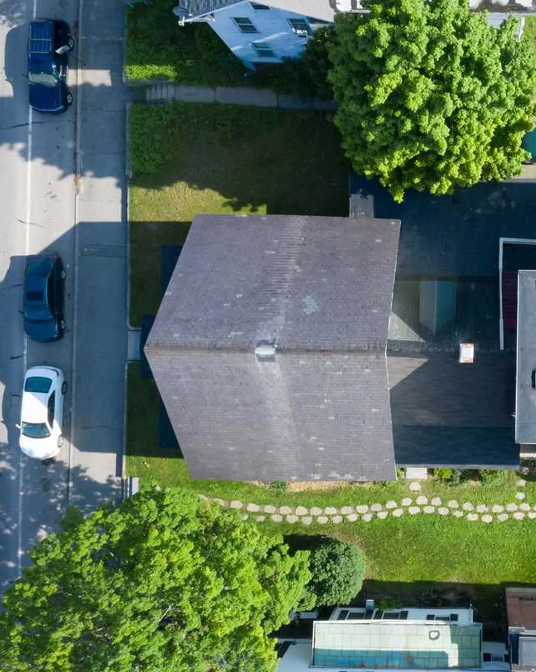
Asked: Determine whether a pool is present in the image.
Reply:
No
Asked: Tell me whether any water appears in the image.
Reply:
No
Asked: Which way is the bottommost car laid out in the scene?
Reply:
up and down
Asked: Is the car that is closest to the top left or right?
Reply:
left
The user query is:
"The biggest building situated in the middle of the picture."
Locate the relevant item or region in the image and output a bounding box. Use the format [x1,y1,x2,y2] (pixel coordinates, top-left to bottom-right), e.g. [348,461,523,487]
[141,215,402,479]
